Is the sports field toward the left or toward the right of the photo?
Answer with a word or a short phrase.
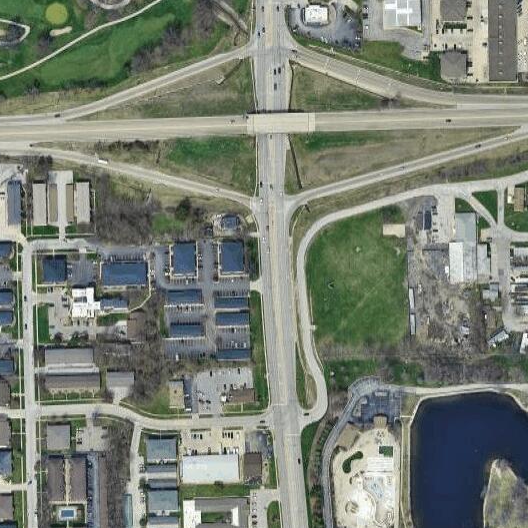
right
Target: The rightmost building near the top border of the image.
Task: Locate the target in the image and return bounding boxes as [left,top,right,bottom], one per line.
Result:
[488,0,516,81]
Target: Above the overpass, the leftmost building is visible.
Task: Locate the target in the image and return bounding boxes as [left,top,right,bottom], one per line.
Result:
[305,4,328,27]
